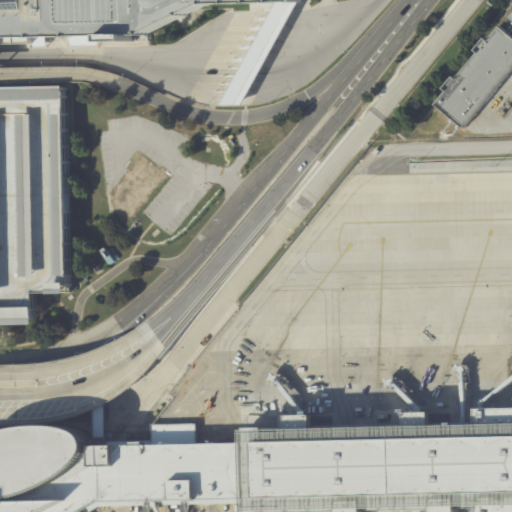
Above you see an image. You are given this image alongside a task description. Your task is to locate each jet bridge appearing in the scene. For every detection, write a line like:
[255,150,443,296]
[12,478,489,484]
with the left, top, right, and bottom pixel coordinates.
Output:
[380,378,420,412]
[266,374,303,414]
[476,370,512,408]
[450,362,467,424]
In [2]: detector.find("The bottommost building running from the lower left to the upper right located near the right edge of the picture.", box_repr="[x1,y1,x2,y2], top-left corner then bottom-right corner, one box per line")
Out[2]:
[434,28,512,126]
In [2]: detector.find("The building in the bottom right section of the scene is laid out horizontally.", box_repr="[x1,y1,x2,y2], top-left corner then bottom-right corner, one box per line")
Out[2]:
[235,408,512,512]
